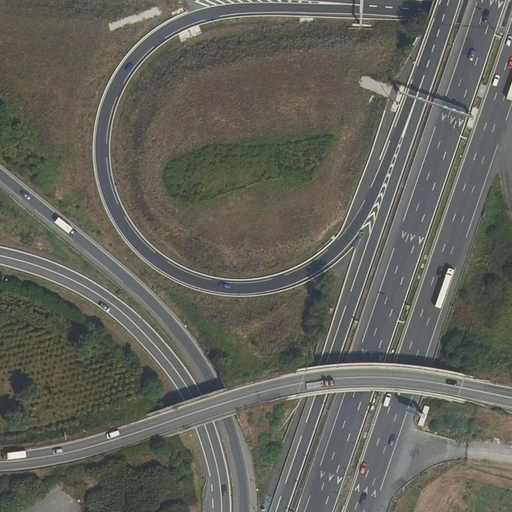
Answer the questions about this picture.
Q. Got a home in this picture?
No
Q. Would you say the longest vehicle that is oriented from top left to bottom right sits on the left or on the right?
left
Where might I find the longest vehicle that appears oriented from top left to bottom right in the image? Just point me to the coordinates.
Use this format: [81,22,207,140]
[55,216,76,236]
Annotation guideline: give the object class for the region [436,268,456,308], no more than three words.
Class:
vehicle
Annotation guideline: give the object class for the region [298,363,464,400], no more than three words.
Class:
overpass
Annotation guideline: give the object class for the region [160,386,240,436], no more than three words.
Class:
overpass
